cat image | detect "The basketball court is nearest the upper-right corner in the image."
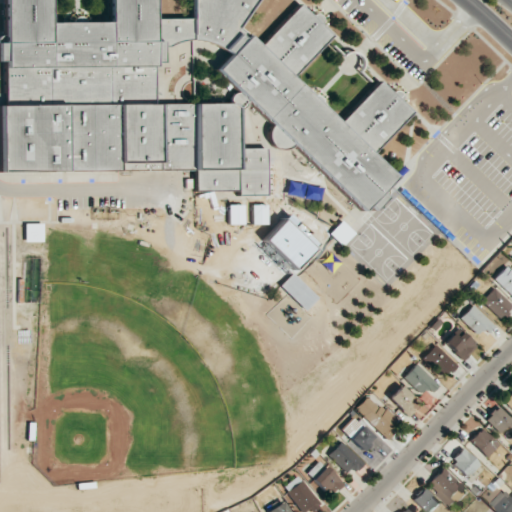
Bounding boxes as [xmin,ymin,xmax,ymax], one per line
[375,198,434,255]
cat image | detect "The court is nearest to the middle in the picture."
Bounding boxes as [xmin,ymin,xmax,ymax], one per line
[350,224,409,280]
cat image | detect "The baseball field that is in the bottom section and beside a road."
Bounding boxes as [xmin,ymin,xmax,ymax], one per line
[33,223,293,485]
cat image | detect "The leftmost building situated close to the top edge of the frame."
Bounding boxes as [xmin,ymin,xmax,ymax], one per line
[0,0,196,102]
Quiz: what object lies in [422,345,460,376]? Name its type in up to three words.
house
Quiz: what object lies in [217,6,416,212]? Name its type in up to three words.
building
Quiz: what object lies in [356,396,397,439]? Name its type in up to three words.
house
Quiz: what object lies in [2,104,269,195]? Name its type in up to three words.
building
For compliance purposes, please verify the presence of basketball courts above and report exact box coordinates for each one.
[375,198,434,255]
[350,224,409,280]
